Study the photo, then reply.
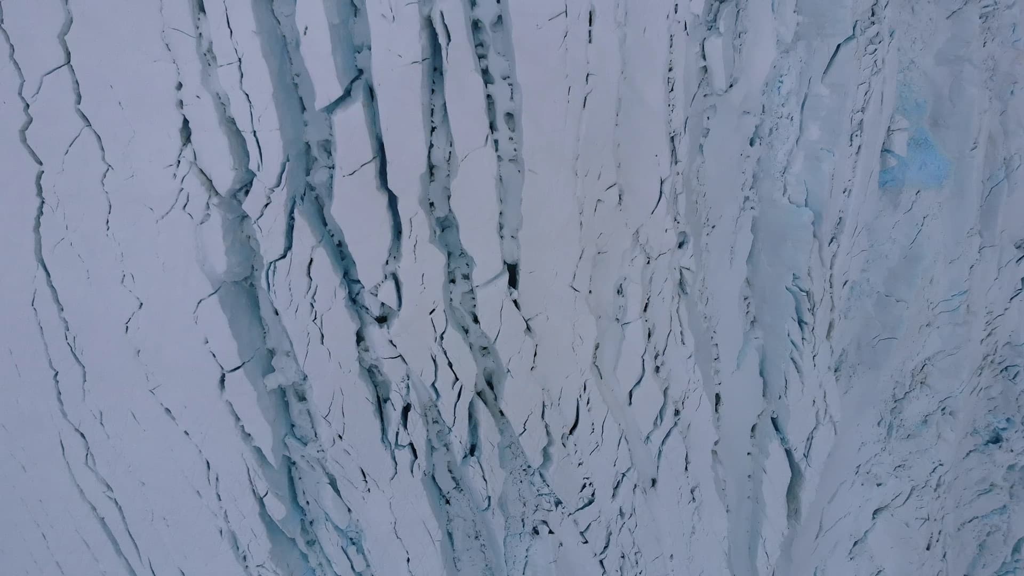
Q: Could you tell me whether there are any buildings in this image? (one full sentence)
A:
No, I can see no building in this picture.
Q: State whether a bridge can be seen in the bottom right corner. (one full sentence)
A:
No, I can find no bridge in the bottom right corner.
